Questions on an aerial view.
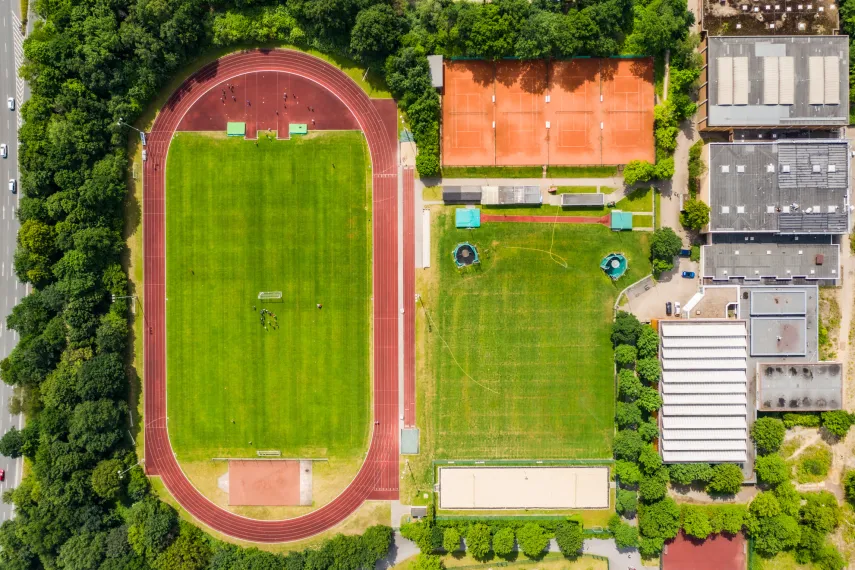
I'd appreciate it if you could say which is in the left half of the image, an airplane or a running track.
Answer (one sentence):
The feature located in the left half of the image is a running track.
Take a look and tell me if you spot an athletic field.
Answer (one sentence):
Yes, the image includes an athletic field.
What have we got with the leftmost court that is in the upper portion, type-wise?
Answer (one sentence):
The leftmost court that is in the upper portion appears to be a tennis court.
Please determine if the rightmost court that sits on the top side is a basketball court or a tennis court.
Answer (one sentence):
Looking closely, the rightmost court that sits on the top side is a tennis court.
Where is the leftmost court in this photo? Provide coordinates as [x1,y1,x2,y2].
[218,462,312,506]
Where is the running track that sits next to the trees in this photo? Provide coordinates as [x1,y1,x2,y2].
[144,48,399,542]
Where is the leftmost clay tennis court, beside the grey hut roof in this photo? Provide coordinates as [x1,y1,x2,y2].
[443,59,495,165]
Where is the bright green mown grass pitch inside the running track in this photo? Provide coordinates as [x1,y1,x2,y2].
[166,131,372,520]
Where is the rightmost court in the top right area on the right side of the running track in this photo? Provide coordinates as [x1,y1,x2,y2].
[601,59,655,165]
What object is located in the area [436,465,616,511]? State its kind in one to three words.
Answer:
sports court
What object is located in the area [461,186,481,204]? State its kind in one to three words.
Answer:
shed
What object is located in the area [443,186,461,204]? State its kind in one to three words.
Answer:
shed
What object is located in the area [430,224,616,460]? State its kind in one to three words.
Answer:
sports field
